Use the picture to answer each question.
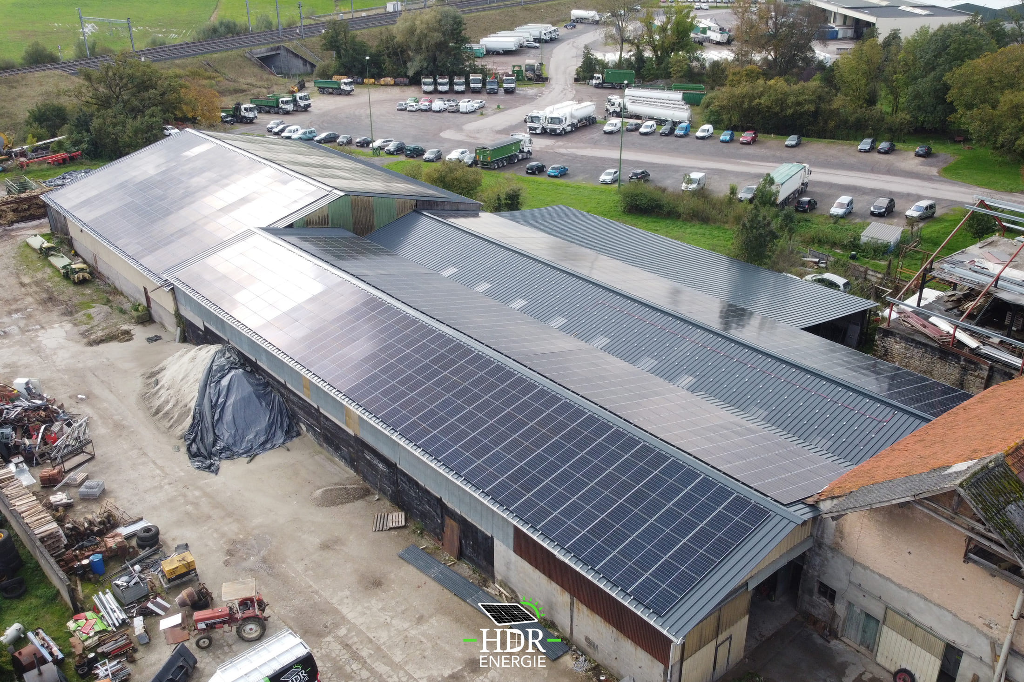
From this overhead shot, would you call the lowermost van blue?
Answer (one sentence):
No, the lowermost van is actually white.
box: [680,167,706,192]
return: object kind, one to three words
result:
vehicle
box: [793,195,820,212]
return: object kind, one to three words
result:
car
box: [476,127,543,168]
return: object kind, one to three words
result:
truck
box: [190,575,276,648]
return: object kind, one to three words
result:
work vehicle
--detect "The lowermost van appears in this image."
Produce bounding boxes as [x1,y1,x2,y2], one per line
[201,622,318,682]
